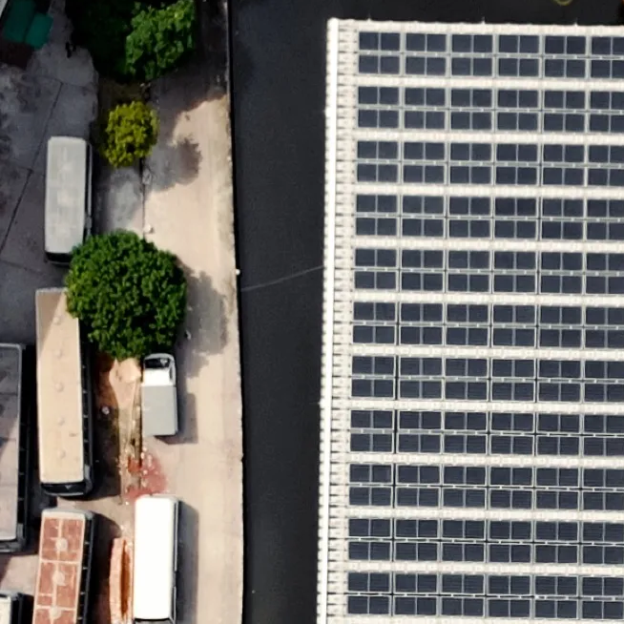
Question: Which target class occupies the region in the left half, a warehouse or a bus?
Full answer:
It is a bus that can be seen in the left half.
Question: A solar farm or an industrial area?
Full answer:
It's a solar farm.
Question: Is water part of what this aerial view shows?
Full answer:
Yes, the picture does contain water.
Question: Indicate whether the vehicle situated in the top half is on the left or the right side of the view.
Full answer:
You can find the vehicle situated in the top half on the left side of the picture.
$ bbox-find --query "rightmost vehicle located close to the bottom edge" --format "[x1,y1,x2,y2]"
[134,493,183,624]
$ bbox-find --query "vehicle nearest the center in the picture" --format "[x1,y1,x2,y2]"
[135,351,177,438]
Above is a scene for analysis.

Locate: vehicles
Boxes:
[135,351,177,438]
[35,503,100,624]
[0,587,26,624]
[47,138,100,268]
[134,493,183,624]
[38,290,97,497]
[0,343,38,555]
